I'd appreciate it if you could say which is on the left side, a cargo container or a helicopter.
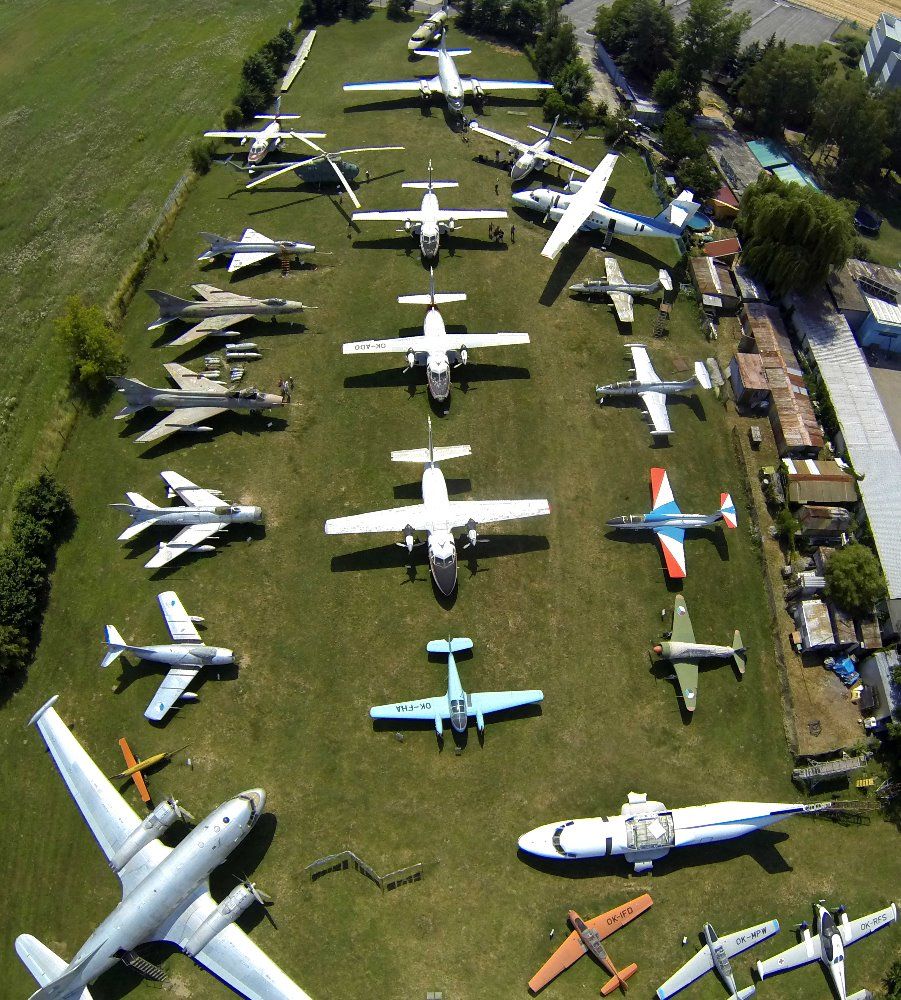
helicopter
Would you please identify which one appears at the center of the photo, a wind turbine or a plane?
plane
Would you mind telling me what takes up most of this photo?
grass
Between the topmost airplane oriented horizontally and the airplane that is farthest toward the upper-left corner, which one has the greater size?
the topmost airplane oriented horizontally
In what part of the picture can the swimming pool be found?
top right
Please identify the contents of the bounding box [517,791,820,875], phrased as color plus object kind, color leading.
white airplane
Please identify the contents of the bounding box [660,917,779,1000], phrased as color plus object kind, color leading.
white airplane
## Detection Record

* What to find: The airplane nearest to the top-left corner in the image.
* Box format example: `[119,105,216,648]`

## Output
[202,87,327,164]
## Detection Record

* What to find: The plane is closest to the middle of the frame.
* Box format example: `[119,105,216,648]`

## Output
[325,424,551,596]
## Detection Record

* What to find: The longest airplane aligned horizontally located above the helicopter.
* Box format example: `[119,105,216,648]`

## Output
[343,23,555,120]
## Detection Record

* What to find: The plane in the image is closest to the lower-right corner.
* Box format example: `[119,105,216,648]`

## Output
[762,901,896,1000]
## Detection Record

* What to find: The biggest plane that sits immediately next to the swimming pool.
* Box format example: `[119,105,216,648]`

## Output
[512,152,700,257]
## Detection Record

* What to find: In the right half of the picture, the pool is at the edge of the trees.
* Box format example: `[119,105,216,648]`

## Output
[679,214,717,243]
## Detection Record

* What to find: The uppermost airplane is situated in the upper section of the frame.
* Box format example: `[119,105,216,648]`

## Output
[408,0,447,53]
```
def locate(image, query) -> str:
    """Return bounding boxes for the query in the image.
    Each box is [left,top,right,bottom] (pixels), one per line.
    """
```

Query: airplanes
[596,345,711,435]
[202,87,327,164]
[352,157,508,259]
[660,917,779,1000]
[146,284,311,345]
[343,23,555,120]
[569,258,673,322]
[517,791,820,875]
[469,105,595,183]
[512,152,700,257]
[606,469,739,578]
[653,597,756,711]
[408,0,447,53]
[343,271,530,401]
[325,424,551,596]
[101,592,237,719]
[371,637,542,740]
[108,472,263,568]
[530,895,652,994]
[199,229,332,271]
[19,695,309,1000]
[762,901,896,1000]
[109,363,303,442]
